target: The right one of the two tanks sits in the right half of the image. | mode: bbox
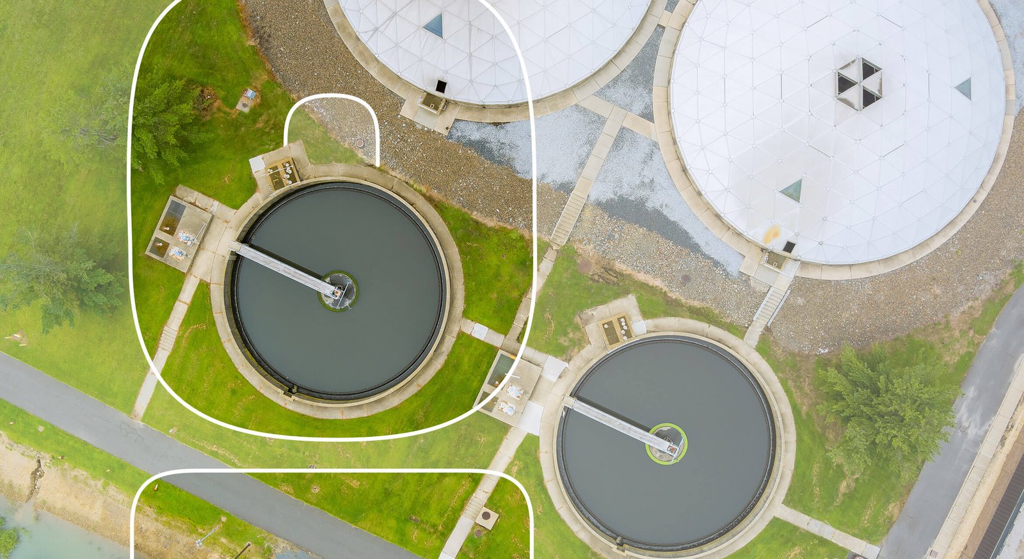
[554,332,782,559]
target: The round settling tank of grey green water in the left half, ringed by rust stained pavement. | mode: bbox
[223,177,451,405]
